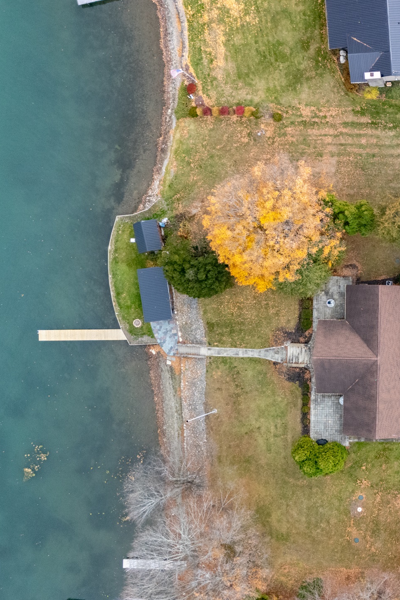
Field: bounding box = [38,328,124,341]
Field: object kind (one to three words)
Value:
pier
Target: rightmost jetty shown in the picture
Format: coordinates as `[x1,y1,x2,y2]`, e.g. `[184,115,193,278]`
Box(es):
[123,557,187,570]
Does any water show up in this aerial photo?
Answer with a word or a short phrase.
Yes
